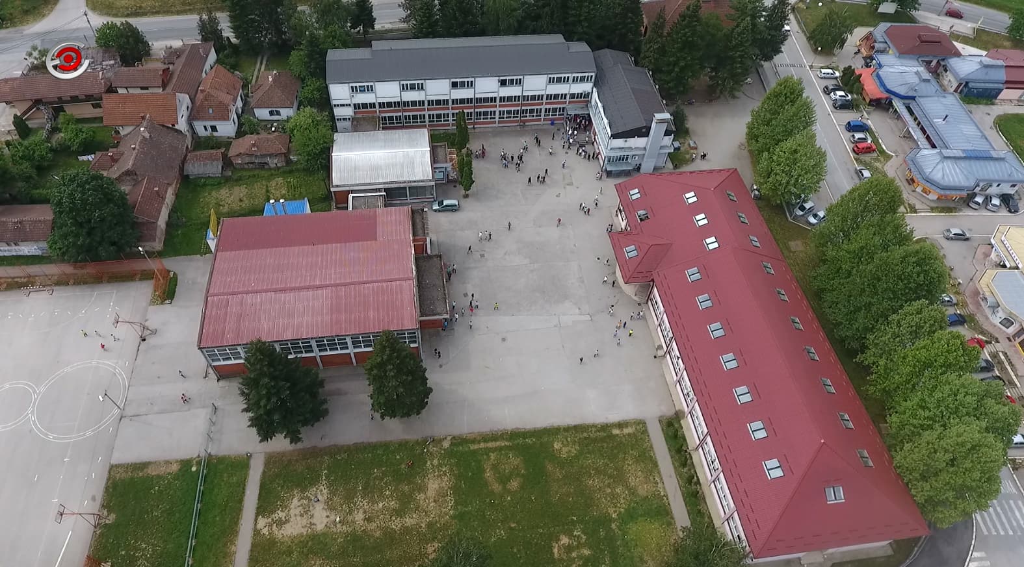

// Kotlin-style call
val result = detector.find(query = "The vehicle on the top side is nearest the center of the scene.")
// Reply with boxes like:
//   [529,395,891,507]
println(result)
[431,197,460,212]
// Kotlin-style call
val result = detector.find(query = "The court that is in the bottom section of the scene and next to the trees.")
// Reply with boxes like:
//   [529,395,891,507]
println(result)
[0,280,156,567]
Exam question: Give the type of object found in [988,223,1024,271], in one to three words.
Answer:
building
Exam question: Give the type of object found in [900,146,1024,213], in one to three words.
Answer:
building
